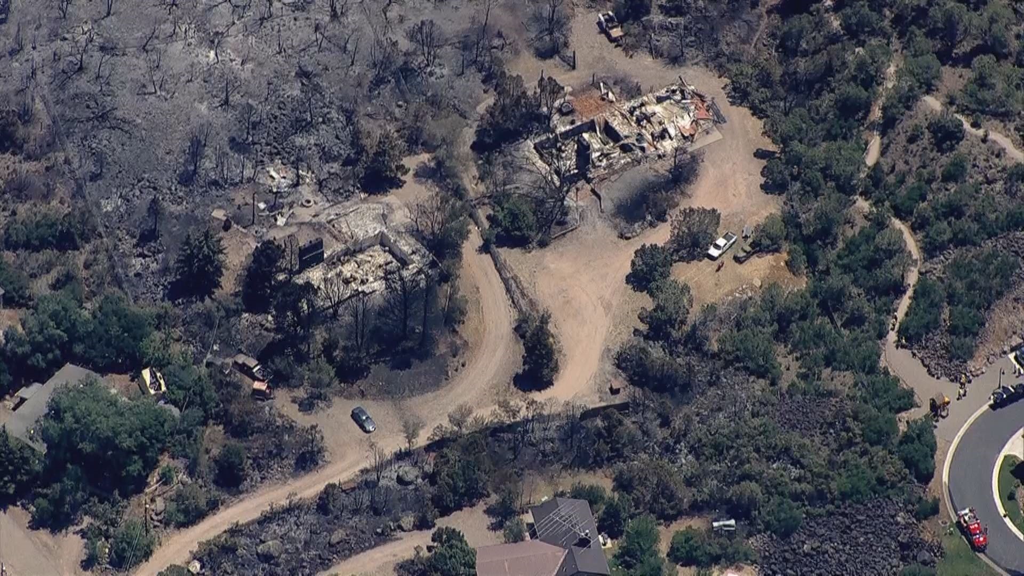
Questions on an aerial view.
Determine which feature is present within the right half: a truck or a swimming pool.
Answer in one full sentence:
The feature located within the right half is a truck.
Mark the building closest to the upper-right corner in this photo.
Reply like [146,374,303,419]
[518,75,723,192]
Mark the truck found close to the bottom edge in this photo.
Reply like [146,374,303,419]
[957,503,991,550]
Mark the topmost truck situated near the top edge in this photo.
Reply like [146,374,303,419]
[594,7,626,42]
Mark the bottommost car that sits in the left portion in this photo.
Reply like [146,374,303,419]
[349,403,378,431]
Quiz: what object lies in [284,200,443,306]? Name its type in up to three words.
house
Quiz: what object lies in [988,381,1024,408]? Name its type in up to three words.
car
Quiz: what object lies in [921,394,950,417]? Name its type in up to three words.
work vehicle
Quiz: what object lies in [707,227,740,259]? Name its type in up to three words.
truck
